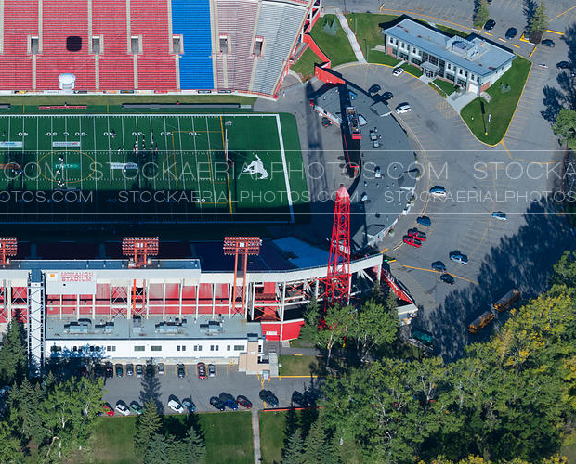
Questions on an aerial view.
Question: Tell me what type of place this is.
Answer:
sports ground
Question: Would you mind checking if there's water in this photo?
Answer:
No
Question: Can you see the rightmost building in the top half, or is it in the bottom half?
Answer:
top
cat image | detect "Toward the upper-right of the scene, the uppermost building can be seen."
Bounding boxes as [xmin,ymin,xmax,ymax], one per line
[379,3,522,96]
